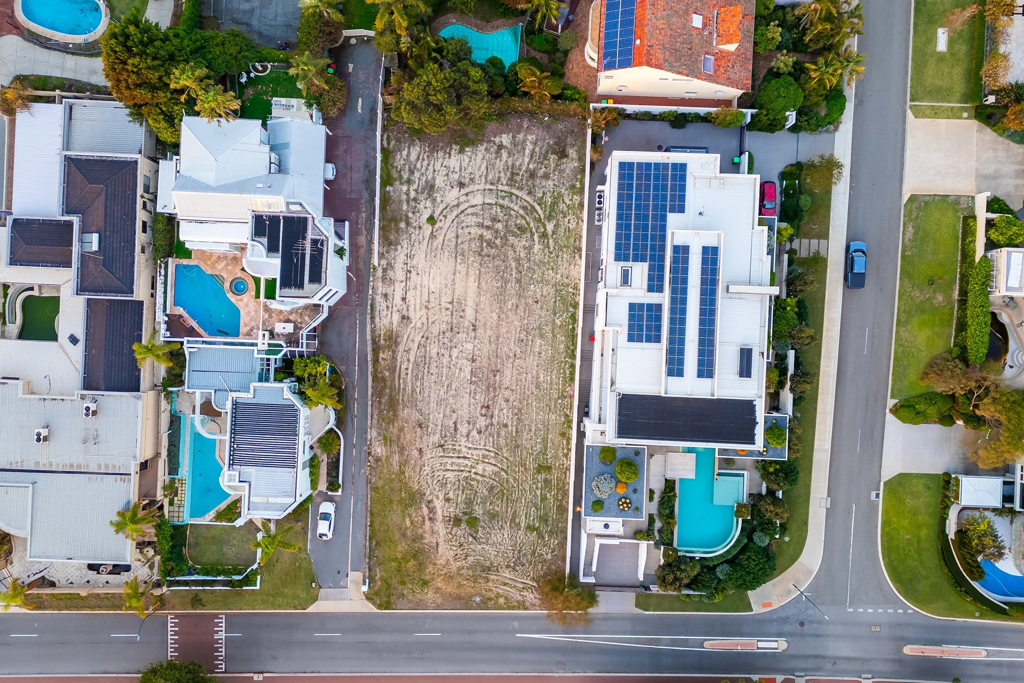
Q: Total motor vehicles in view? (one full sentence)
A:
In total, there are 3 motor vehicles in the scene.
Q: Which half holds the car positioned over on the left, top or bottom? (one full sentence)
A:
It is in the bottom half that the car positioned over on the left appears.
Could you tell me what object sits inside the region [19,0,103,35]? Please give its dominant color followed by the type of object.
blue swimming pool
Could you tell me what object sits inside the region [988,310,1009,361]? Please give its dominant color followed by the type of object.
black swimming pool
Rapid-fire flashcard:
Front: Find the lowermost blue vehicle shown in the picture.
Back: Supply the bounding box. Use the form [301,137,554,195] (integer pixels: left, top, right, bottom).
[843,242,867,288]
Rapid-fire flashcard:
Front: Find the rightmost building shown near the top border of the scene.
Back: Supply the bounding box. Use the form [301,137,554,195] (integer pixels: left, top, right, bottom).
[580,0,755,99]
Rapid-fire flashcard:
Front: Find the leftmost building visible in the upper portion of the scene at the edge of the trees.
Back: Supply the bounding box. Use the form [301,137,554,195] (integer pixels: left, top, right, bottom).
[0,99,163,396]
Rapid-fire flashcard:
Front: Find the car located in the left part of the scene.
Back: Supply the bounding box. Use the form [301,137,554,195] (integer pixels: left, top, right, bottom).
[316,501,337,539]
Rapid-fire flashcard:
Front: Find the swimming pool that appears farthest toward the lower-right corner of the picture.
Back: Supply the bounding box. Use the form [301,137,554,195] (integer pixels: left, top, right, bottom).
[971,555,1024,601]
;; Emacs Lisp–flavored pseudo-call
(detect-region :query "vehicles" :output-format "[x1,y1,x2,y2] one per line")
[316,501,337,539]
[757,182,777,217]
[843,242,867,288]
